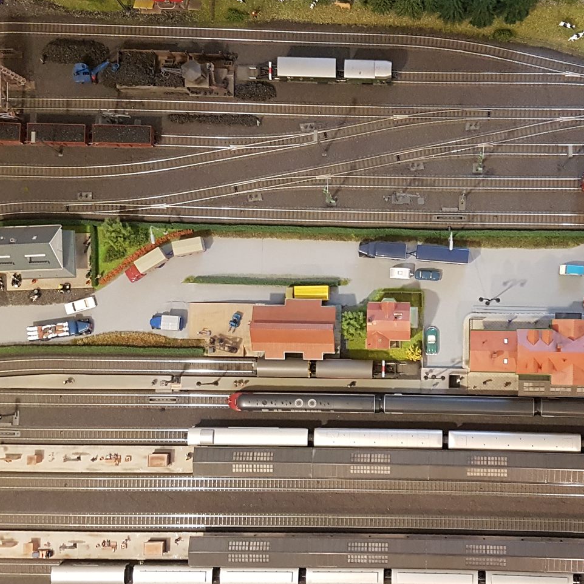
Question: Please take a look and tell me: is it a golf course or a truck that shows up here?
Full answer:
Looking from above, you can make out a truck.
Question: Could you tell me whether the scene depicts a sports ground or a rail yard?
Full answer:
This looks like a rail yard.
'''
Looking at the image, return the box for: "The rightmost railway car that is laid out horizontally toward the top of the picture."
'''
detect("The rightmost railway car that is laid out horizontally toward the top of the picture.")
[343,55,396,83]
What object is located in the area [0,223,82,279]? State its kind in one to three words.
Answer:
house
